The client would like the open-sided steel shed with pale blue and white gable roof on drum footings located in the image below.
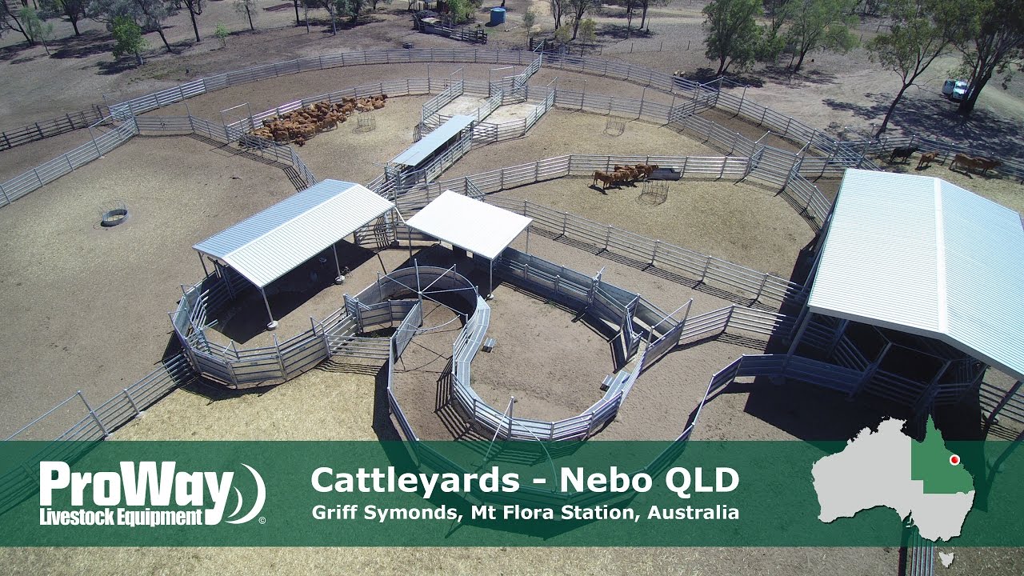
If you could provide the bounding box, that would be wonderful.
[191,178,400,326]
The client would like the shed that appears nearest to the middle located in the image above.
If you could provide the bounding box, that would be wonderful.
[405,189,534,293]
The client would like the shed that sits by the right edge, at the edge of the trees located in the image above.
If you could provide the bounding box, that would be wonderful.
[779,168,1024,457]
